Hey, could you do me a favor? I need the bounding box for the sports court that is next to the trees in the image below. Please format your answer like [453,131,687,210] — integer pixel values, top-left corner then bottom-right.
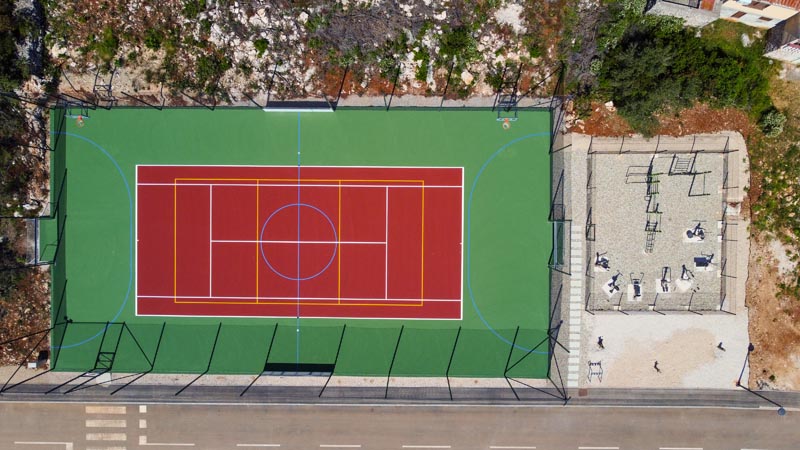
[39,107,564,379]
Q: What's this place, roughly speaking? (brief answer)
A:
sports ground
